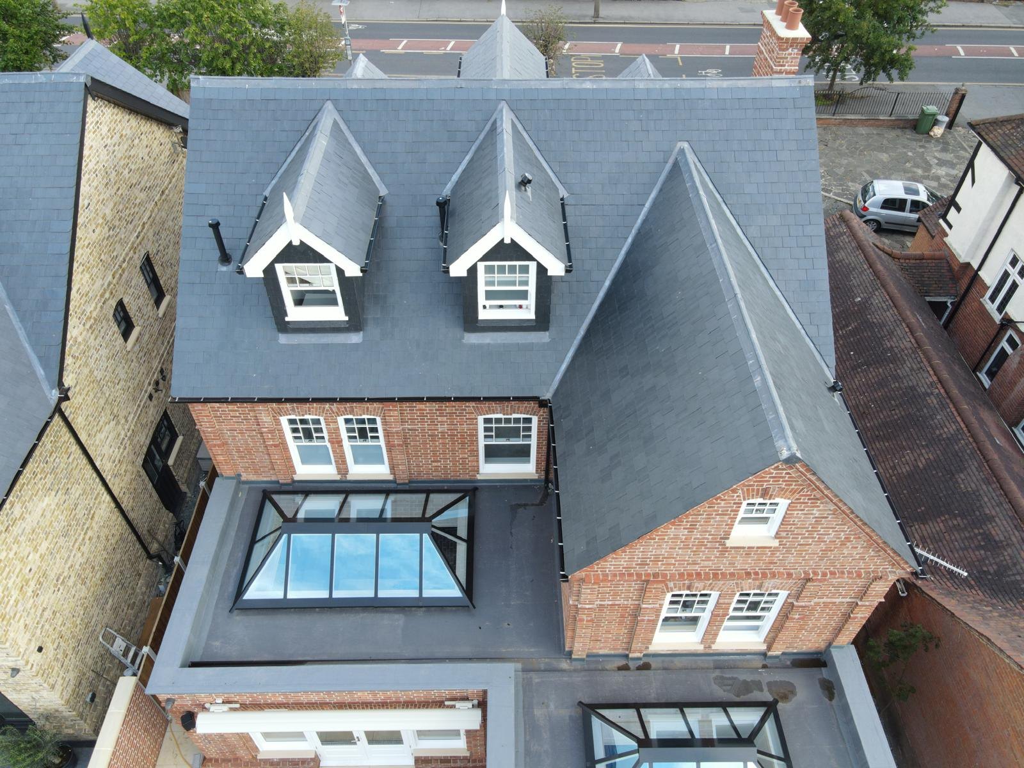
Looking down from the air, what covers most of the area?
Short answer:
buildings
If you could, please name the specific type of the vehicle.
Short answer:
automobile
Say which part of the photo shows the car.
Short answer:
top right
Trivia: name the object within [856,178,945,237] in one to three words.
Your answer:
car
